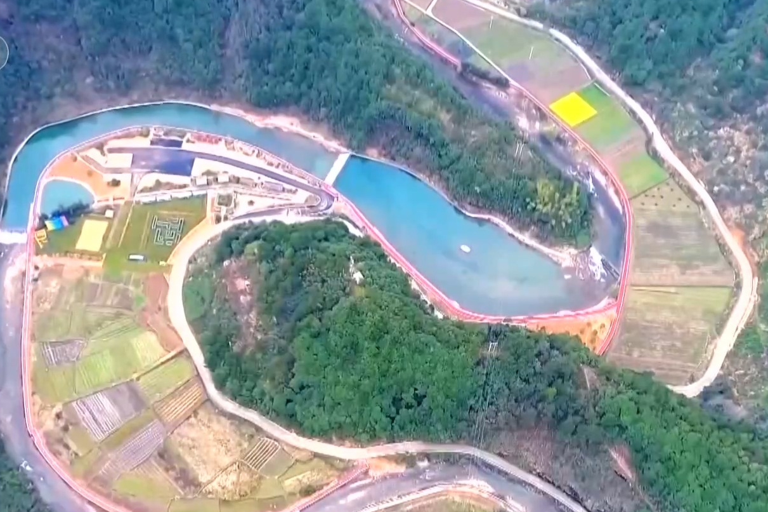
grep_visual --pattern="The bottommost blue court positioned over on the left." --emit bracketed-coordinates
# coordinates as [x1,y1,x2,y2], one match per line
[159,160,194,176]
